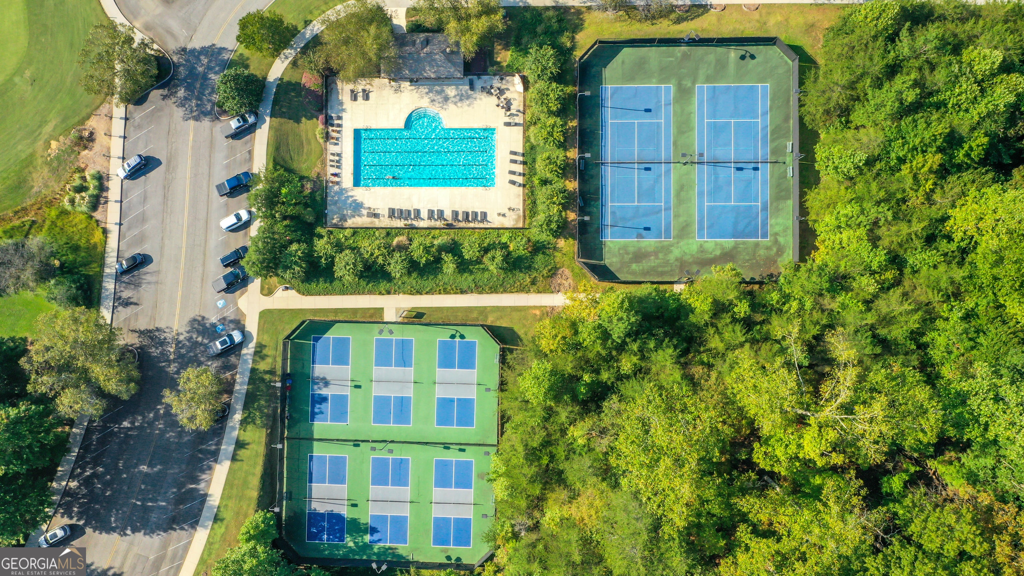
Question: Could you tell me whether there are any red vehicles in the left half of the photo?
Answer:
No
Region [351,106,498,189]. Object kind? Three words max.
swimming pool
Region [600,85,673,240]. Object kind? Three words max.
tennis court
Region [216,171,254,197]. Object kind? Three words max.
truck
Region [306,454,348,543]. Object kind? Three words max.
sports court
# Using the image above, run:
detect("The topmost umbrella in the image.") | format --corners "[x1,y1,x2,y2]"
[497,74,525,92]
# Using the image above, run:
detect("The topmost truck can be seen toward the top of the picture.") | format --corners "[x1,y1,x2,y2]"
[221,113,259,139]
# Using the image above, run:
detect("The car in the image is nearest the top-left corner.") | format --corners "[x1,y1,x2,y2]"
[119,154,150,181]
